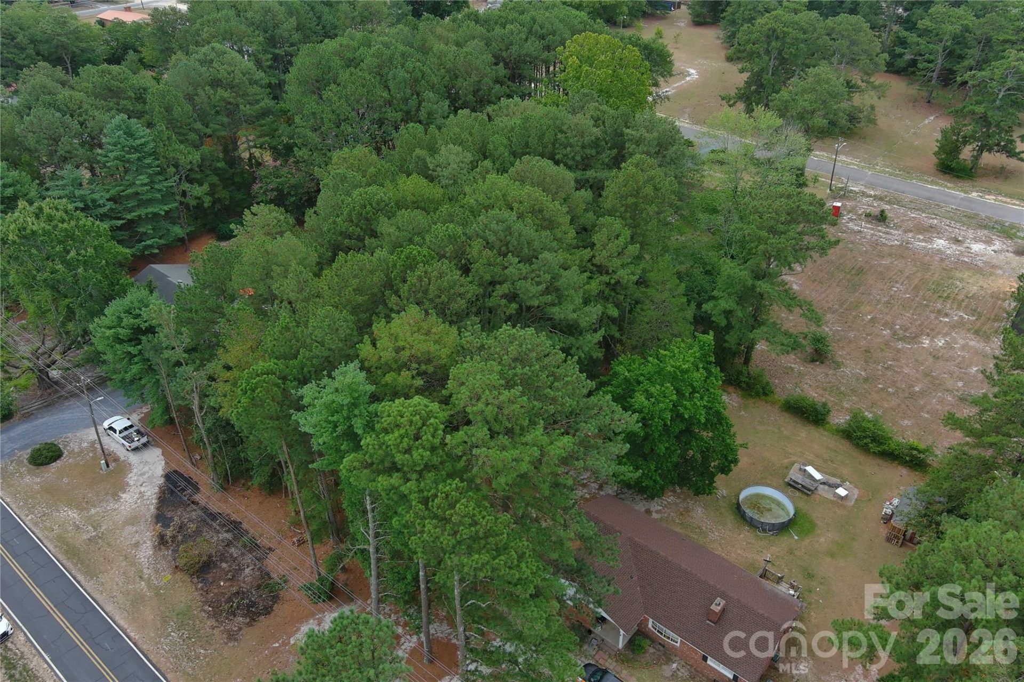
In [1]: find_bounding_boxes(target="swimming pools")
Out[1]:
[734,485,795,533]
